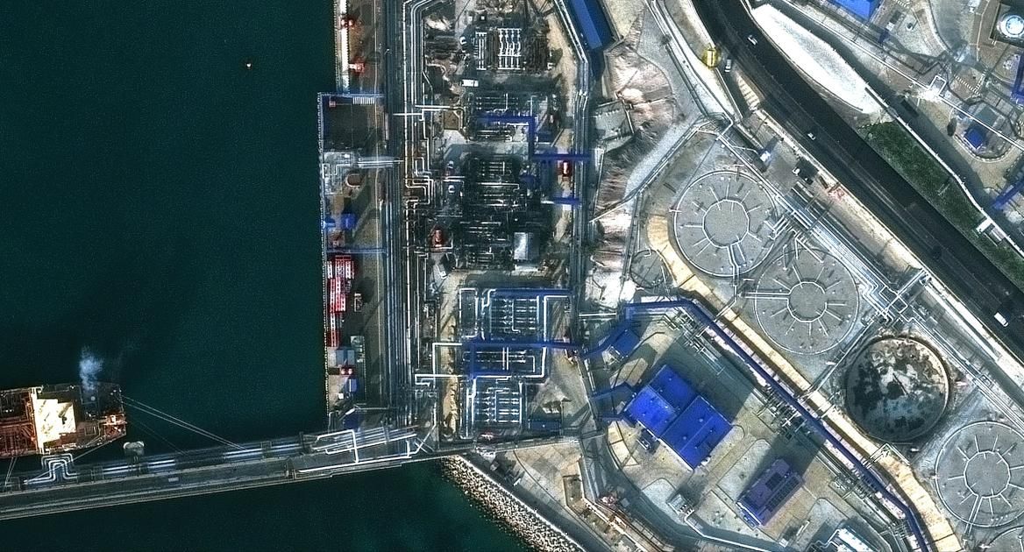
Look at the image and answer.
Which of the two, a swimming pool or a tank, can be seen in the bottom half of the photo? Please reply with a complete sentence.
The one visible in the bottom half of the photo is a tank.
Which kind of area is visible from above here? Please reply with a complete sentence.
The area seen from above is a port.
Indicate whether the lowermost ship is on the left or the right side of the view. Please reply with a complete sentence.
The lowermost ship is on the left side of the image.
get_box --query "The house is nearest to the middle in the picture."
[513,232,539,262]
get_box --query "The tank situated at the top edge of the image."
[988,2,1024,48]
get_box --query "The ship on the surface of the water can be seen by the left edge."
[0,382,128,458]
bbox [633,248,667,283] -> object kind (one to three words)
storage tank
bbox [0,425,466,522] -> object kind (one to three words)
pier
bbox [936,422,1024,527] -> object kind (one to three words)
storage tank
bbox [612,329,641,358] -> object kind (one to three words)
building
